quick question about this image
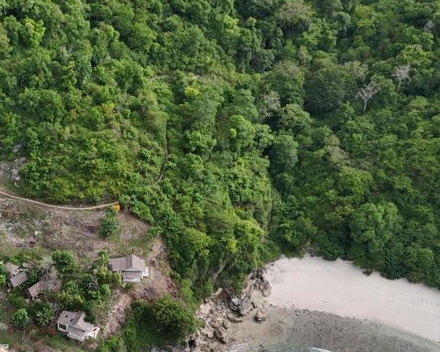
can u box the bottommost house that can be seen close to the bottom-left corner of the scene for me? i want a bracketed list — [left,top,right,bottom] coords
[50,308,96,346]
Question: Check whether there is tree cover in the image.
Yes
